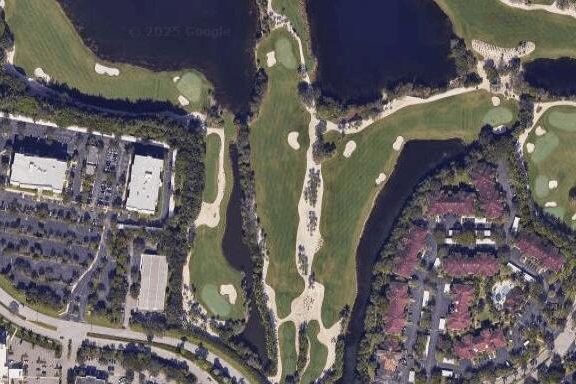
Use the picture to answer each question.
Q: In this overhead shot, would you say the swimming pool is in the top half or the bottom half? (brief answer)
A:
bottom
